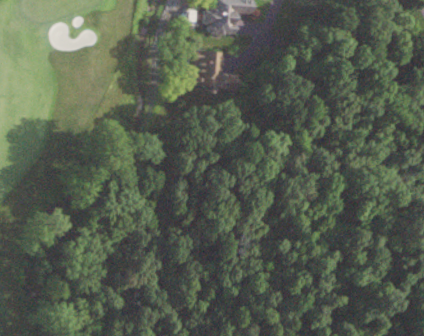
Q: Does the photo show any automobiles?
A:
No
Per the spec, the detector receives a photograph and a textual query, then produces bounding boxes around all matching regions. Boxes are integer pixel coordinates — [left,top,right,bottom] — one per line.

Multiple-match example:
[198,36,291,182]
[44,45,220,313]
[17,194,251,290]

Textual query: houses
[200,0,256,38]
[198,48,238,90]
